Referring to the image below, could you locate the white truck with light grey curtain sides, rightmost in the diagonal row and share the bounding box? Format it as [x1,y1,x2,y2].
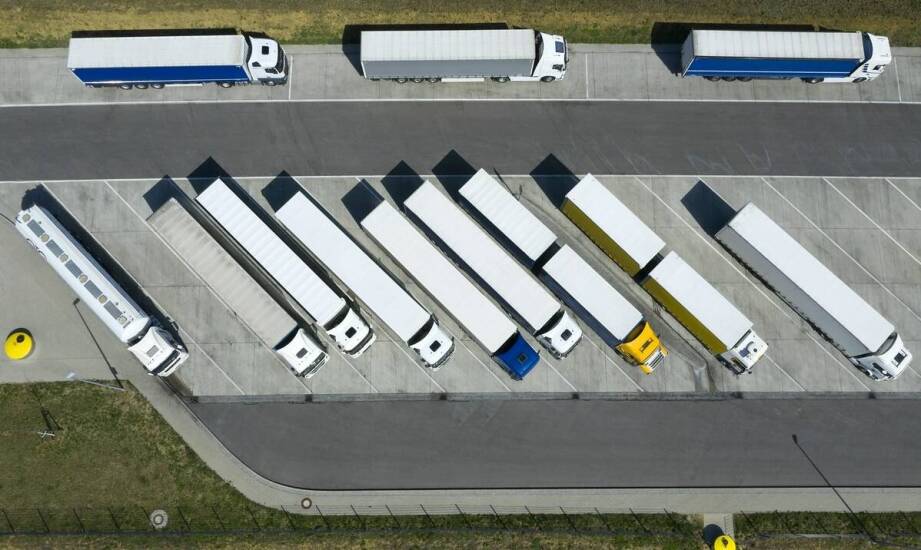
[715,202,915,384]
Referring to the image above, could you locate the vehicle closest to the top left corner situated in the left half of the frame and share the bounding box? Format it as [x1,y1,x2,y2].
[66,35,288,90]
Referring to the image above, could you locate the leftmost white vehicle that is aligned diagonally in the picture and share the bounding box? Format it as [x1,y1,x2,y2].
[13,205,183,369]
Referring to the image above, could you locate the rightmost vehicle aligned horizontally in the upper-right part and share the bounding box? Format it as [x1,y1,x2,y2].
[680,29,891,83]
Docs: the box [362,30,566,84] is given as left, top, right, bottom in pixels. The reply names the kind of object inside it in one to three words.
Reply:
truck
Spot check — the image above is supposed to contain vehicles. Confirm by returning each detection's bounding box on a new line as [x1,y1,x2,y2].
[715,202,915,384]
[404,182,585,361]
[196,178,377,357]
[680,29,891,83]
[13,205,183,369]
[560,174,766,374]
[458,169,665,375]
[362,30,566,84]
[361,201,542,384]
[148,199,331,380]
[66,35,288,90]
[276,192,459,371]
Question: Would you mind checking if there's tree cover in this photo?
No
